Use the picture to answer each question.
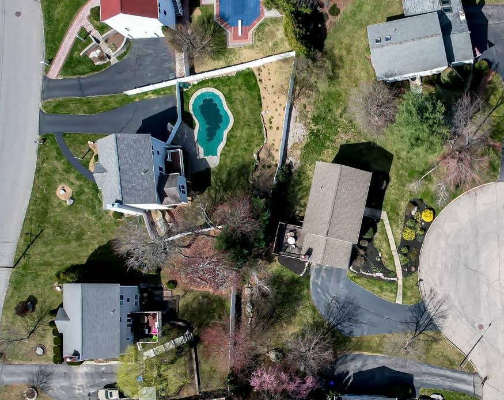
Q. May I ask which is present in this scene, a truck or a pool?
pool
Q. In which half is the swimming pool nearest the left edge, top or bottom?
top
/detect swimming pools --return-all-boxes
[189,87,234,159]
[214,0,265,43]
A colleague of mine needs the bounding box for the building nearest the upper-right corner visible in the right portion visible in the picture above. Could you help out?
[366,0,473,90]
